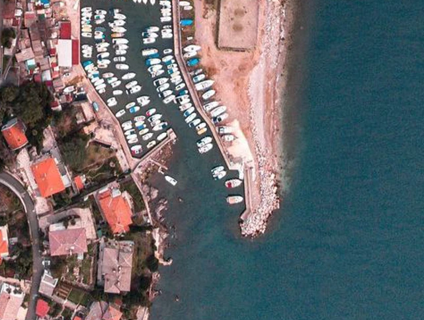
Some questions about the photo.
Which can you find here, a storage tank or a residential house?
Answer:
residential house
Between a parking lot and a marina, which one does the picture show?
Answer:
marina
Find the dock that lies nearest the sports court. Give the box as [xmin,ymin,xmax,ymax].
[173,0,234,171]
